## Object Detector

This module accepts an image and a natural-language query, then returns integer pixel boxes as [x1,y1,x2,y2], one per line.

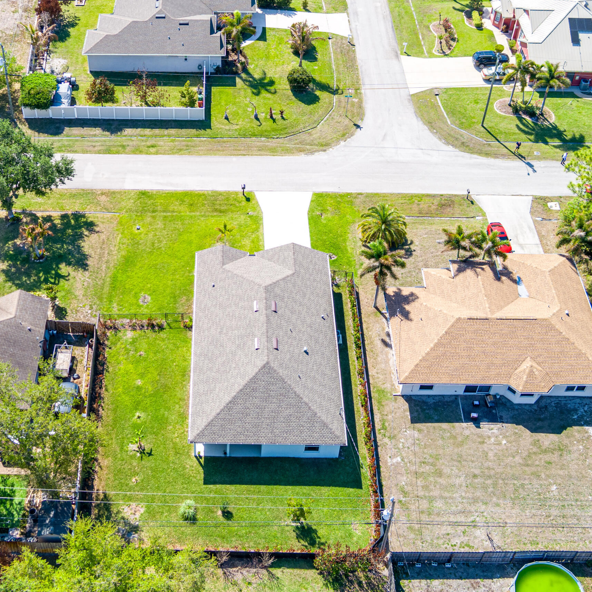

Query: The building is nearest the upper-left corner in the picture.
[81,0,257,76]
